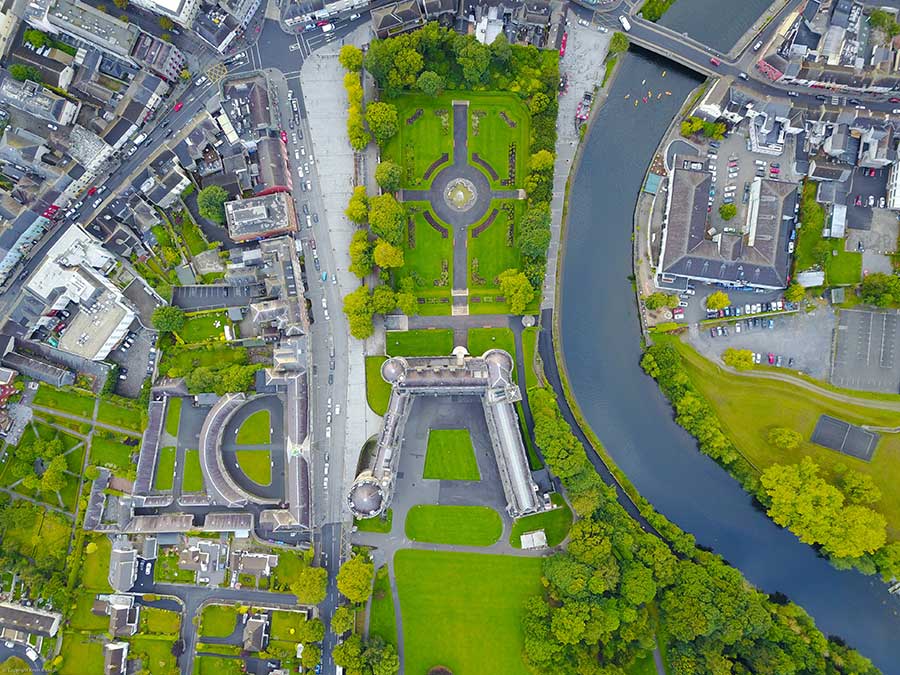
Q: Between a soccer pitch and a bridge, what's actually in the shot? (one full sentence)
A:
This aerial view contains a bridge.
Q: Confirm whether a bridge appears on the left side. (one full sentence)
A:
No, no bridge appears on the left side.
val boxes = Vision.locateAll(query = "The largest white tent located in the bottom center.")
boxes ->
[519,529,547,549]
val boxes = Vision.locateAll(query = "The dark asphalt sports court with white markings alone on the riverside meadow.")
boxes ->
[811,414,882,461]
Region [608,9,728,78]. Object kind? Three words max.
bridge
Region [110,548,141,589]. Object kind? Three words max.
house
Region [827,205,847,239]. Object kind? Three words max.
shed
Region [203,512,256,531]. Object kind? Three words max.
building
